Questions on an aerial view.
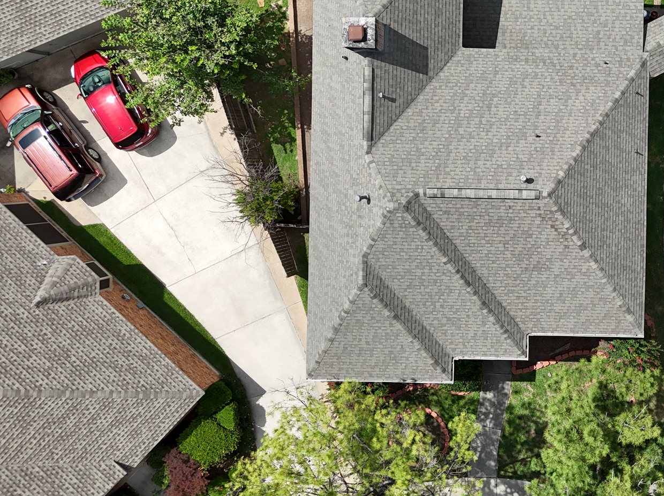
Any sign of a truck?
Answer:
No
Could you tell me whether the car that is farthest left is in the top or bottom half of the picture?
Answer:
top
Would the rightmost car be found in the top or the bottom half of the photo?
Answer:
top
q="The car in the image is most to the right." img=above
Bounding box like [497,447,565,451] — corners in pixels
[71,47,159,159]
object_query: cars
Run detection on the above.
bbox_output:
[71,47,159,159]
[0,79,100,201]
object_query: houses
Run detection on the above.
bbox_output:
[0,0,163,71]
[304,0,652,384]
[0,191,216,496]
